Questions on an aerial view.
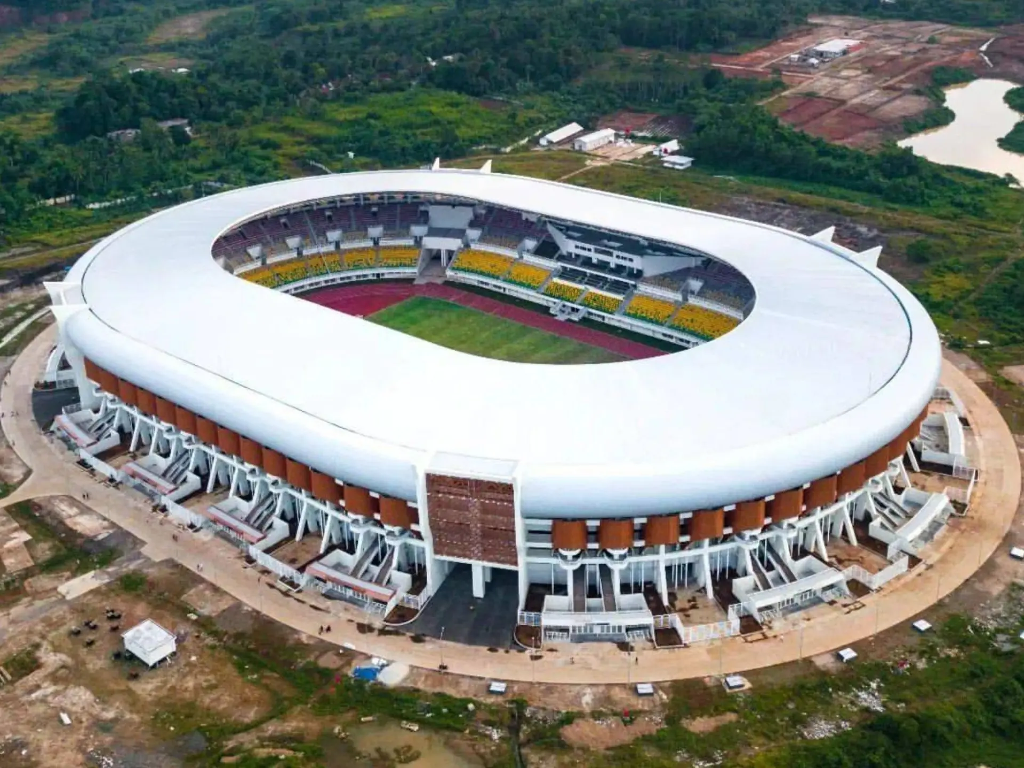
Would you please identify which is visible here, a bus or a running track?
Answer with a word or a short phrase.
running track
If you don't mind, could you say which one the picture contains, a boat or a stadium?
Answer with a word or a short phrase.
stadium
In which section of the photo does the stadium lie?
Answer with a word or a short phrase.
center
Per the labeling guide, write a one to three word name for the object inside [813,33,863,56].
building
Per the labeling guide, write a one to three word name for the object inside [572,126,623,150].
building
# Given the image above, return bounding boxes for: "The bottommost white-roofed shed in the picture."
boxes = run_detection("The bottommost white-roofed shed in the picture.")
[122,619,177,671]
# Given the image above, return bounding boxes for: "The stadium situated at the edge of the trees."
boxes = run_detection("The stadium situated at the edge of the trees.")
[42,156,937,616]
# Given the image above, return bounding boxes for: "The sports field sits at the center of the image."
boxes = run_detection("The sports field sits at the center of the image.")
[366,295,638,367]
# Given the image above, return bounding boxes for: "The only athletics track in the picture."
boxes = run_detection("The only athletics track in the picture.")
[313,289,666,361]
